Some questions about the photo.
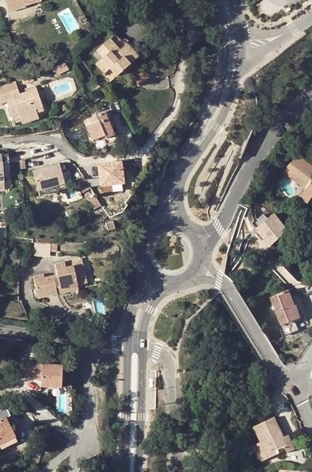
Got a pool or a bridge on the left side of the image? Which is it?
pool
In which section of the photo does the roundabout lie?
center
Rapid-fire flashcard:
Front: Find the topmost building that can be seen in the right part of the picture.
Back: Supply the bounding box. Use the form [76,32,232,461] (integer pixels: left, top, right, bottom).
[286,158,312,203]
